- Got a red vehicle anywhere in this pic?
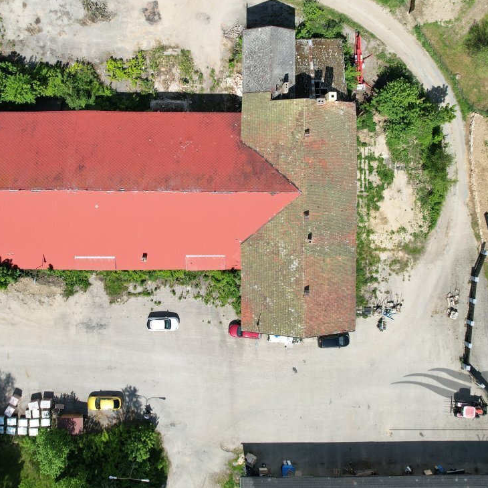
Yes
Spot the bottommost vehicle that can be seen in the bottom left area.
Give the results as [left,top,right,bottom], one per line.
[88,394,121,411]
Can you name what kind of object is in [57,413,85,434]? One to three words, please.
shed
